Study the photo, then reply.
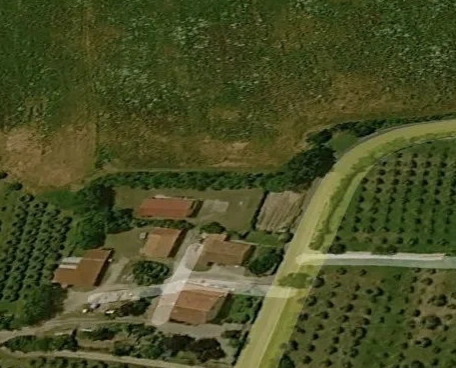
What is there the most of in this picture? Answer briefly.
grass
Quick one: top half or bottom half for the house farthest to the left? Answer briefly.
bottom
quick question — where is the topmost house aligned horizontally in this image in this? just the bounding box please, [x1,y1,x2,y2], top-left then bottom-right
[135,198,194,221]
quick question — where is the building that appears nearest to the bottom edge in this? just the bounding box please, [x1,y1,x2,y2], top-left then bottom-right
[168,288,225,328]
